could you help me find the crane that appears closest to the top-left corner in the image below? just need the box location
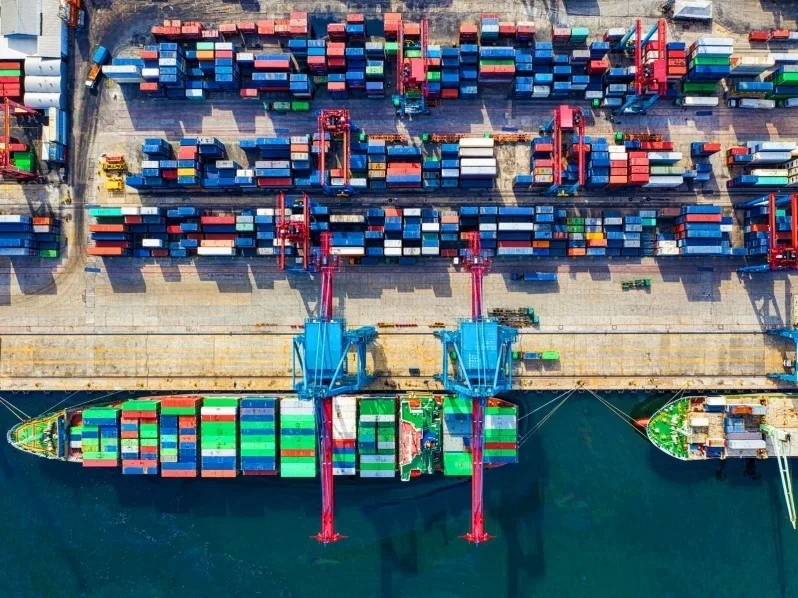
[0,98,48,180]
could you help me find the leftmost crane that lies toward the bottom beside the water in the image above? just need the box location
[286,235,383,542]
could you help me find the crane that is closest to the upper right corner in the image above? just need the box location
[610,18,668,113]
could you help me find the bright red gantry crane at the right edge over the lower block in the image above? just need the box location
[735,193,798,275]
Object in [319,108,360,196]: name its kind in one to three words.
container crane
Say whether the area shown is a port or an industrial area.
port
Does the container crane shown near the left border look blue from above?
No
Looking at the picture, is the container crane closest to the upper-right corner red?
Yes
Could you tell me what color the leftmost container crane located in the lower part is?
blue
